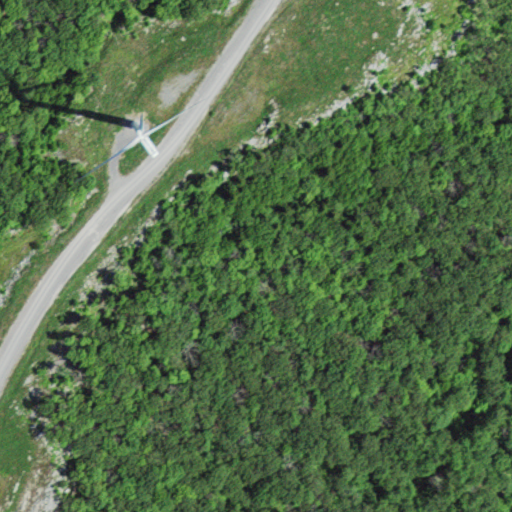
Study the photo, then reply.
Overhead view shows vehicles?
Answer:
No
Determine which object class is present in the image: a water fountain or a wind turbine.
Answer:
wind turbine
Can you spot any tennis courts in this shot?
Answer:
No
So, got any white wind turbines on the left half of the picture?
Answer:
Yes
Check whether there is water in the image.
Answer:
No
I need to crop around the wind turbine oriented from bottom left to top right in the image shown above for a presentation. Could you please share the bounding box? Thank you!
[66,96,202,183]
